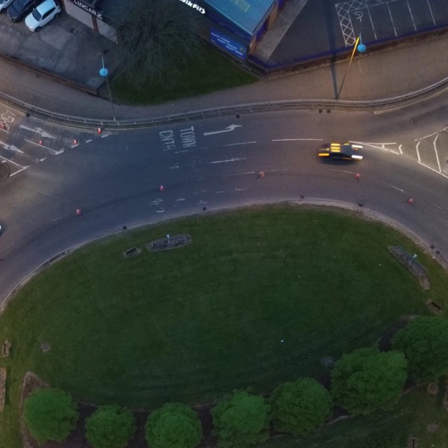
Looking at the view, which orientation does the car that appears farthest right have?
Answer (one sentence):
The car that appears farthest right runs from side to side in the image.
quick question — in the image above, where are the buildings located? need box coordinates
[153,0,286,61]
[59,0,150,43]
